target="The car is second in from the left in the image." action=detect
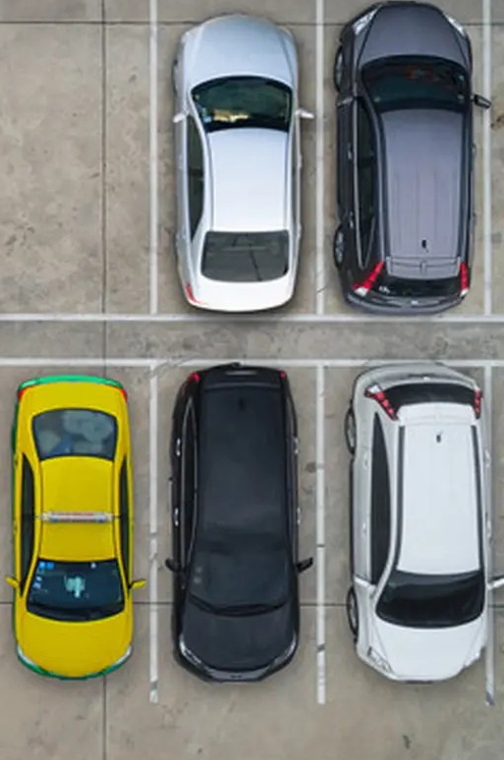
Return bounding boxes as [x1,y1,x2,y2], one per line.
[169,15,310,312]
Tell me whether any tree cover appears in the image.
No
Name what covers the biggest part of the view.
paved ground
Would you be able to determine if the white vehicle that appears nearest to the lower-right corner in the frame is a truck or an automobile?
automobile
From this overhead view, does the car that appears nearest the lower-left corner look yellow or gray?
yellow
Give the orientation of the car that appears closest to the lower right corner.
from top to bottom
